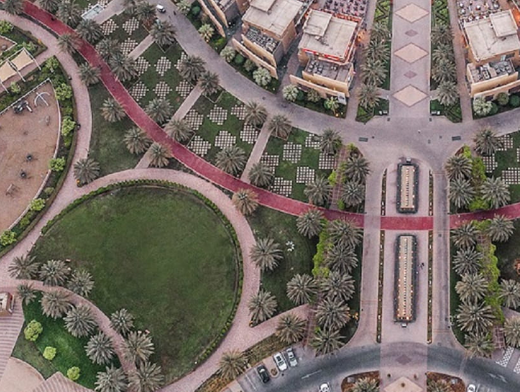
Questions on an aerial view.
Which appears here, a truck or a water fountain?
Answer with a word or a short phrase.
water fountain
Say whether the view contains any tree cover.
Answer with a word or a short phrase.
Yes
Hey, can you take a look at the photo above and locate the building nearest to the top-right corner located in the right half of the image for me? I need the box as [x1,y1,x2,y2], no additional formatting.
[465,10,520,96]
